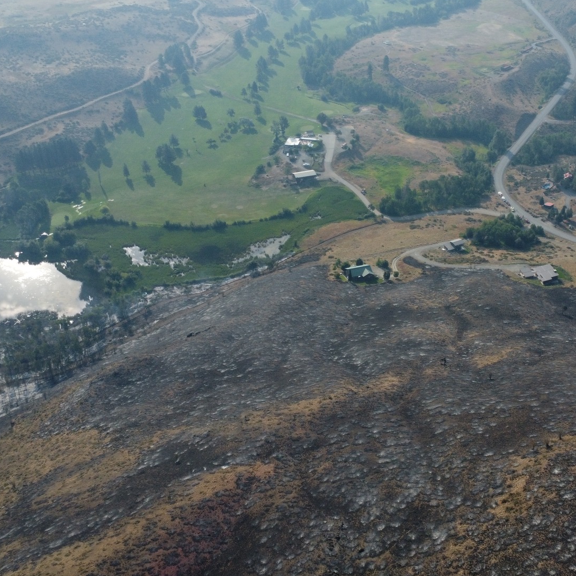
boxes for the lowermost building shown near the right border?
[507,262,563,285]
